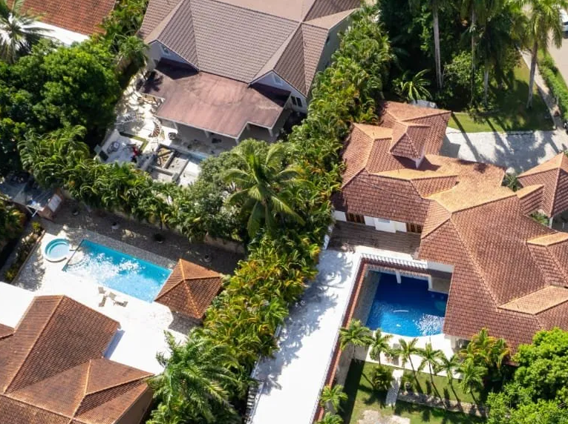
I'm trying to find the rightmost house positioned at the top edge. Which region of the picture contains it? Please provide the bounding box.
[138,0,359,147]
